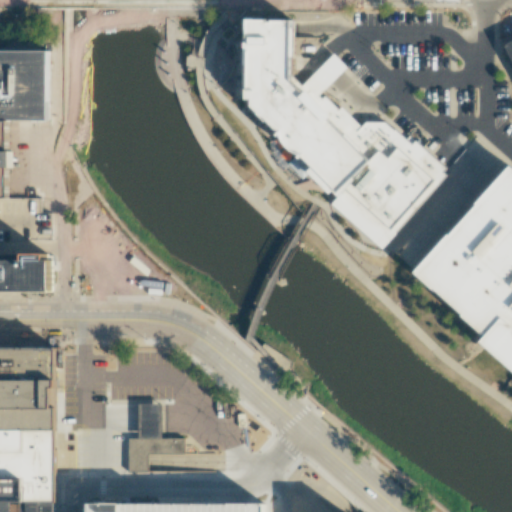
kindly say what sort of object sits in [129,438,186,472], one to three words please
building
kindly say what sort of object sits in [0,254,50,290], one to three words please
building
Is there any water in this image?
Yes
